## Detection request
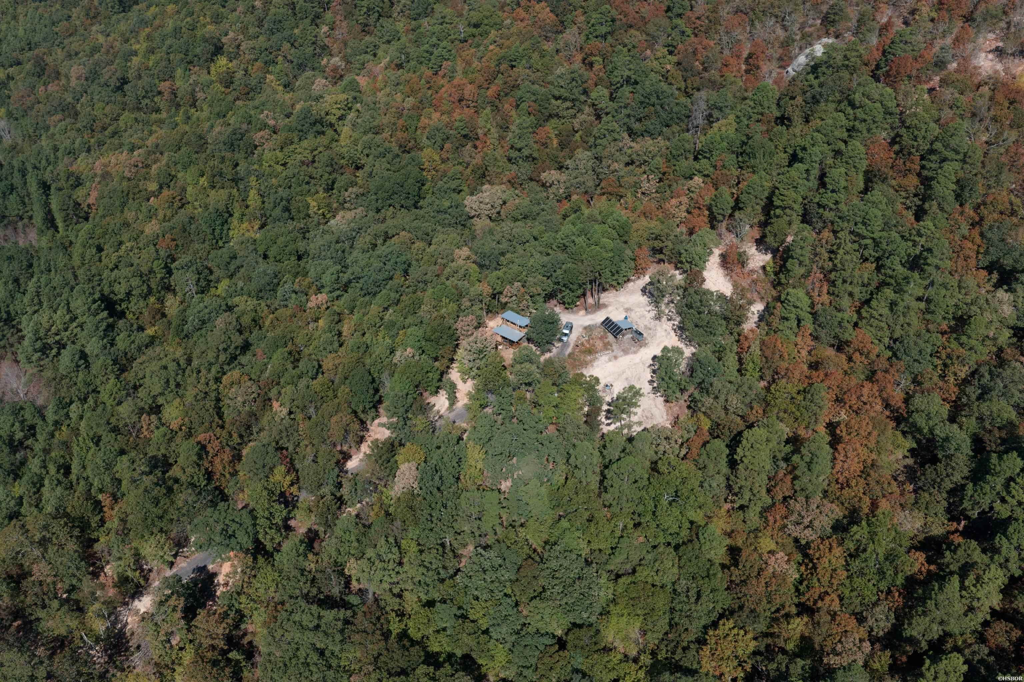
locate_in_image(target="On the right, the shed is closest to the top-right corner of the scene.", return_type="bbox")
[601,317,635,342]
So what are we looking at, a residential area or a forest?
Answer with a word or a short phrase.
forest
